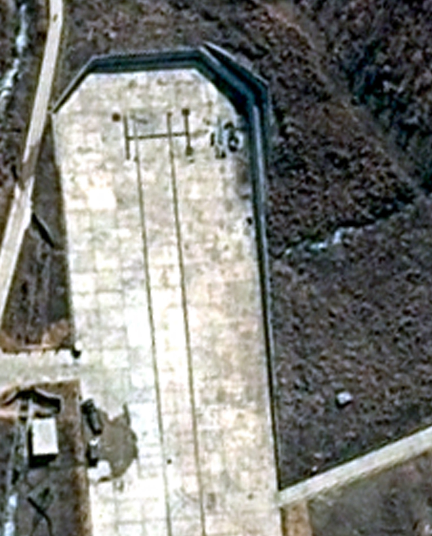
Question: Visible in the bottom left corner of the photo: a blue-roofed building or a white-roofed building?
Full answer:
Visible in the bottom left corner of the photo is a white-roofed building.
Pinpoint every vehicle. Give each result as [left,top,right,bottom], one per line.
[89,439,100,463]
[81,398,103,432]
